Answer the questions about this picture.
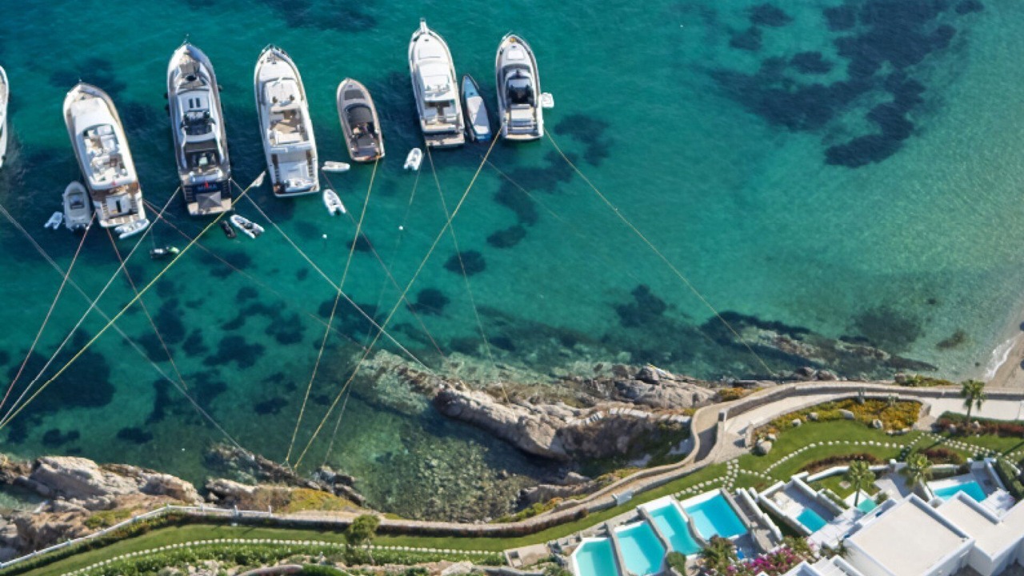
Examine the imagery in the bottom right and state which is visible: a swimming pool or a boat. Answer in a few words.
swimming pool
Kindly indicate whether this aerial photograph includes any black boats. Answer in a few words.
Yes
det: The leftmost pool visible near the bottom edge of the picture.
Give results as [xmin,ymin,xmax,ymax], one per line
[571,536,620,576]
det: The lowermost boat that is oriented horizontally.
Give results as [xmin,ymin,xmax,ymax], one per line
[151,246,179,258]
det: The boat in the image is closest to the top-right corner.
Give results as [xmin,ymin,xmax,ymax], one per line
[541,91,553,108]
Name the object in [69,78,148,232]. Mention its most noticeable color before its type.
white boat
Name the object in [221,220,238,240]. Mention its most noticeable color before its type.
black boat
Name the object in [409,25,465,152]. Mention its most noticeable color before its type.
white boat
